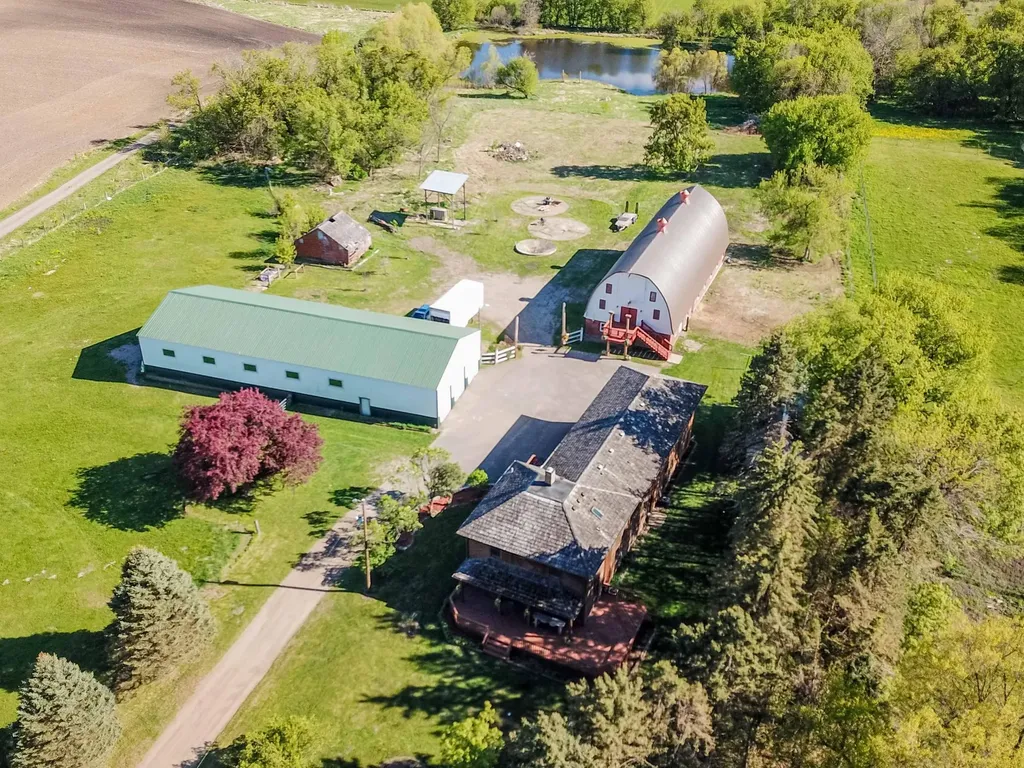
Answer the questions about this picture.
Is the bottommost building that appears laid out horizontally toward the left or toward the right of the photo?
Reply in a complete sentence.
The bottommost building that appears laid out horizontally sits on the left side.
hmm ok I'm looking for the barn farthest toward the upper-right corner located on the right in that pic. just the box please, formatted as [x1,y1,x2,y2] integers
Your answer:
[583,183,730,362]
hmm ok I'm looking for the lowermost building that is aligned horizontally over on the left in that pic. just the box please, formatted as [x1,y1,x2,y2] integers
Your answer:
[133,288,480,427]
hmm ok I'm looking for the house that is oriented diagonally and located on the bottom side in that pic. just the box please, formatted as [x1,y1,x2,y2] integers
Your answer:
[448,365,707,634]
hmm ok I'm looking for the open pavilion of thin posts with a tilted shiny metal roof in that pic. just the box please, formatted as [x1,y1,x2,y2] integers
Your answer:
[420,171,468,229]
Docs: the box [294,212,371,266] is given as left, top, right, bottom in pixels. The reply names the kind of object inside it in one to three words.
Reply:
shed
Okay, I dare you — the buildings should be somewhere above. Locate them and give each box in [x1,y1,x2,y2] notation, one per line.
[420,171,468,229]
[133,288,480,427]
[448,365,707,634]
[294,212,371,266]
[583,183,730,362]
